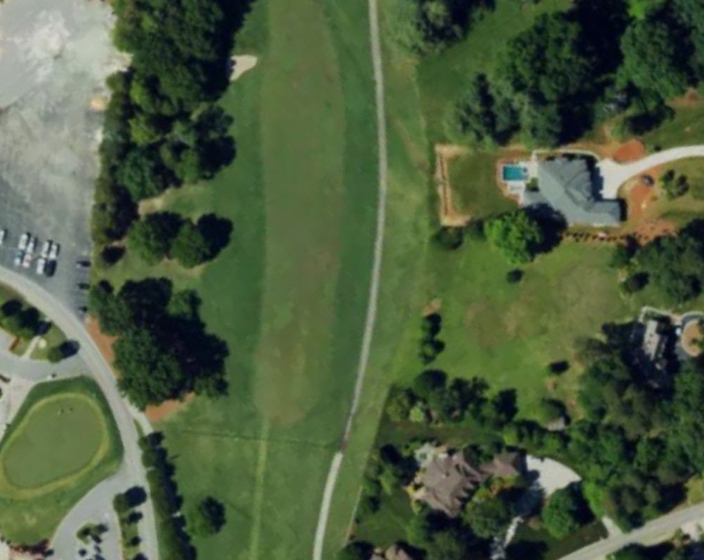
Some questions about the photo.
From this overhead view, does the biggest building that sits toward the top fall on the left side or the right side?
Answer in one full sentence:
The biggest building that sits toward the top sits on the right side.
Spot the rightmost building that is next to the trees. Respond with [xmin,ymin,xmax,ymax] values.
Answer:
[639,316,672,369]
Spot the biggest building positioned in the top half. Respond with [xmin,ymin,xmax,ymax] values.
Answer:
[531,145,623,229]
